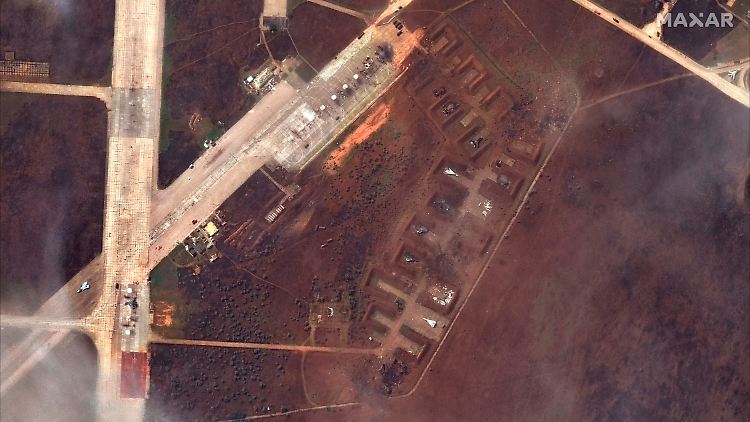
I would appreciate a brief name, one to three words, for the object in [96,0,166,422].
runway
